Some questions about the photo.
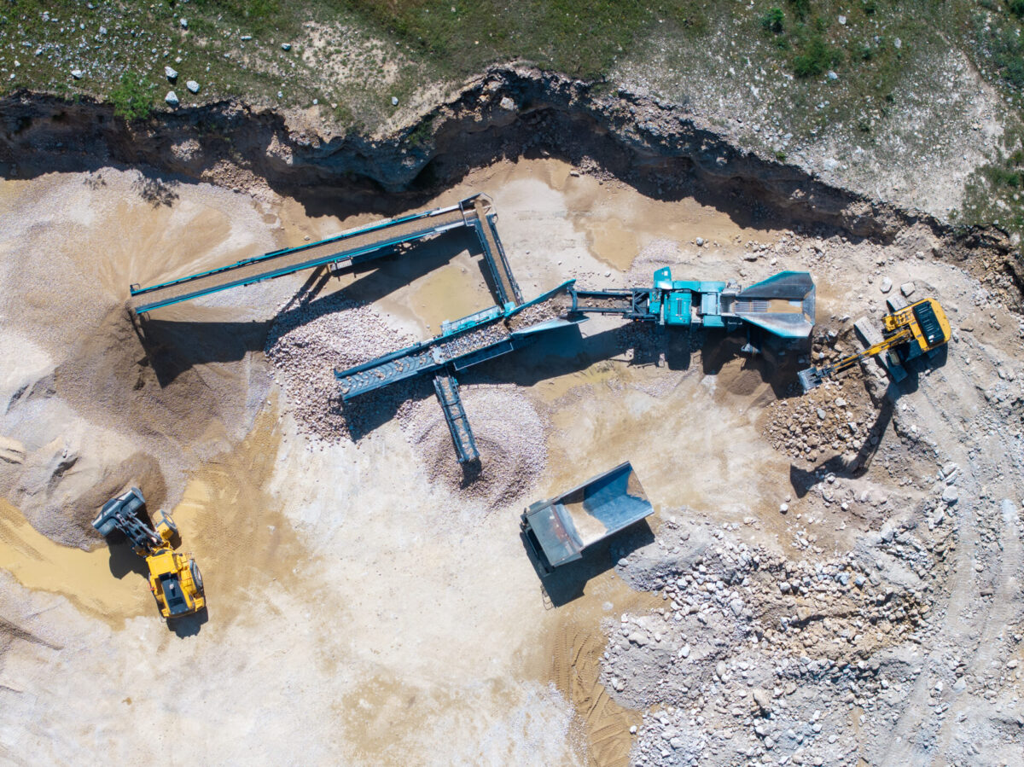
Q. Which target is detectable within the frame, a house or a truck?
truck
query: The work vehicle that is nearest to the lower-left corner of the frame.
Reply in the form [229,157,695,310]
[94,486,206,623]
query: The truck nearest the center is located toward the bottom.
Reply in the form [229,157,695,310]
[522,461,654,567]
